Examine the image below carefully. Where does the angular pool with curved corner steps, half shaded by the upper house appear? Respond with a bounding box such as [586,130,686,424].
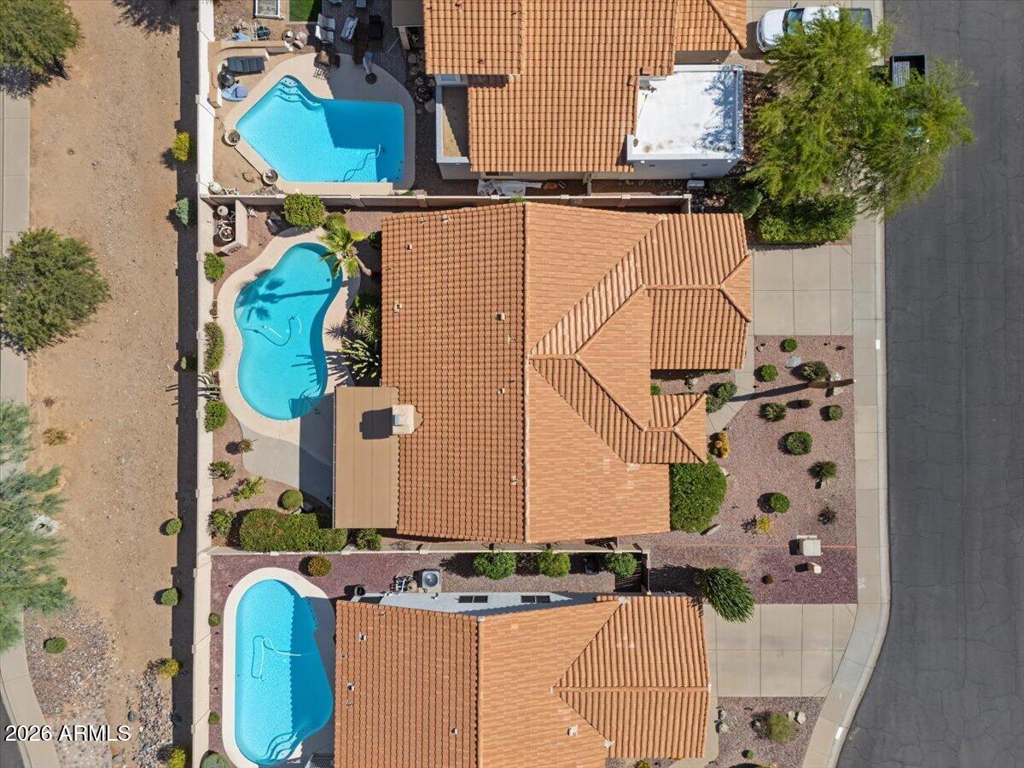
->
[236,73,405,183]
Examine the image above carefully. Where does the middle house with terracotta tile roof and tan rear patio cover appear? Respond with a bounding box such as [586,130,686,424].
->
[332,202,755,548]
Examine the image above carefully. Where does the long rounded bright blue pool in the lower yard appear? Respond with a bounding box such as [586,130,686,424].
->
[234,579,333,765]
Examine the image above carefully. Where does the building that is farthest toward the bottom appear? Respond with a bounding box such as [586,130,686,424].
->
[334,592,711,768]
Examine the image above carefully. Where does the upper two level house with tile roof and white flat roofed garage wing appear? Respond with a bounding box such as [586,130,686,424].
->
[392,0,750,179]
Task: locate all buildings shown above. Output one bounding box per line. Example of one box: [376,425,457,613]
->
[332,202,755,548]
[392,0,750,179]
[334,592,711,768]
